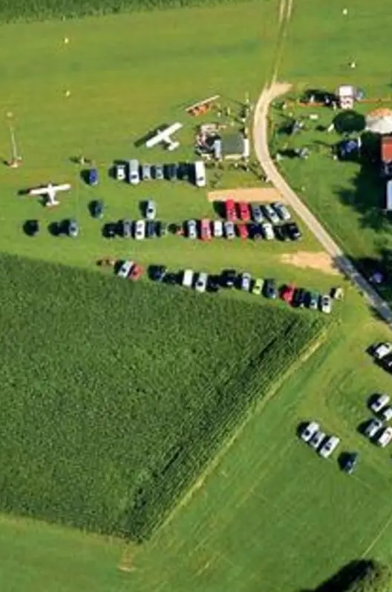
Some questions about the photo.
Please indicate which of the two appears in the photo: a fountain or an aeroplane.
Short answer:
aeroplane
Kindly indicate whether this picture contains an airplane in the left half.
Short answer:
Yes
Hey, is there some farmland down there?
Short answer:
Yes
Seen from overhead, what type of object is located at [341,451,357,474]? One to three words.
car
